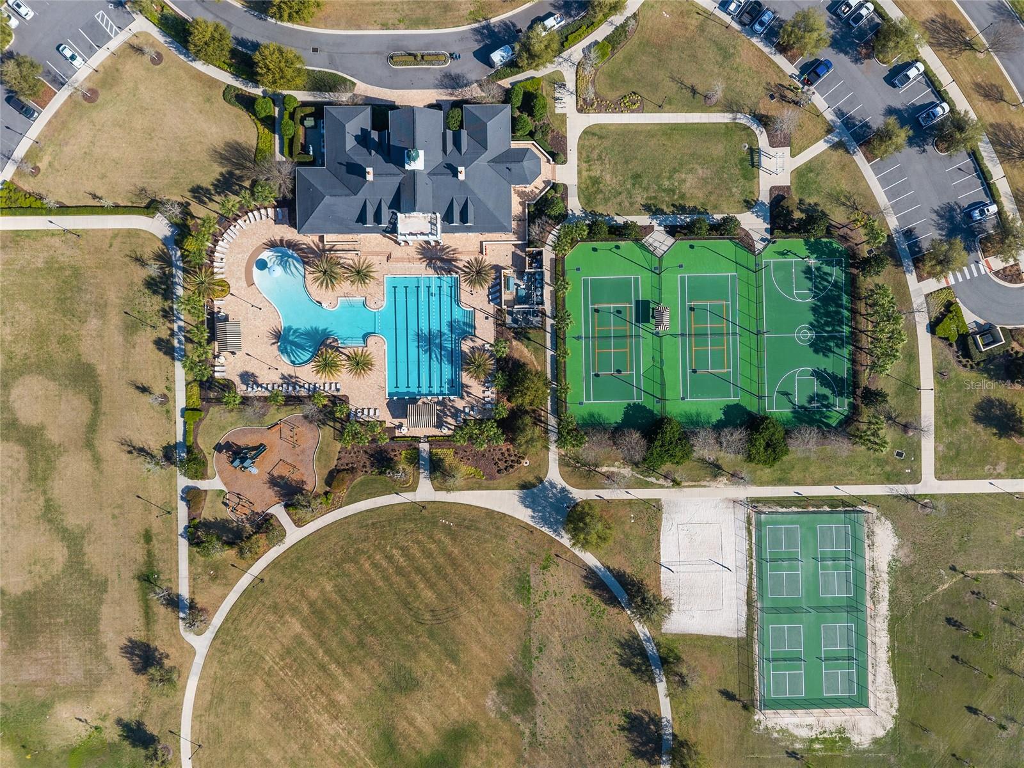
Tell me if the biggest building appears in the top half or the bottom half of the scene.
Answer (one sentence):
The biggest building sits in the top half of the picture.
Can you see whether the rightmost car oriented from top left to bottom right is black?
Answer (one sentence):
No, the rightmost car oriented from top left to bottom right is actually white.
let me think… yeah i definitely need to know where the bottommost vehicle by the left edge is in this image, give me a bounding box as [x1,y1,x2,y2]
[11,97,39,120]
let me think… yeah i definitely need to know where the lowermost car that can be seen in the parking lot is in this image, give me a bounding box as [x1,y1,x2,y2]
[967,202,996,221]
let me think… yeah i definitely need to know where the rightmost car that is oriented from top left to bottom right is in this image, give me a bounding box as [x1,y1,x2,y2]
[60,45,85,69]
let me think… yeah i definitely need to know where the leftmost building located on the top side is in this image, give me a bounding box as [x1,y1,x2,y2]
[296,104,541,246]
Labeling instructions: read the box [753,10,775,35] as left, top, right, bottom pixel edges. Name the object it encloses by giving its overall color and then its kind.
blue car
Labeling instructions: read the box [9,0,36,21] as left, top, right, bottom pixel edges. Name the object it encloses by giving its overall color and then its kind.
white car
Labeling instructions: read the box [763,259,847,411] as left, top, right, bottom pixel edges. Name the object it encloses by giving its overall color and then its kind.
green basketball court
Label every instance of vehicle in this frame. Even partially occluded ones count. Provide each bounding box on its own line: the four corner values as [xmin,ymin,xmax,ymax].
[9,0,36,21]
[11,97,39,120]
[487,46,519,72]
[802,59,830,89]
[536,12,568,33]
[60,45,85,69]
[915,103,947,129]
[722,0,744,20]
[845,1,873,33]
[736,0,763,32]
[967,202,996,221]
[889,64,922,91]
[753,10,775,35]
[837,0,863,24]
